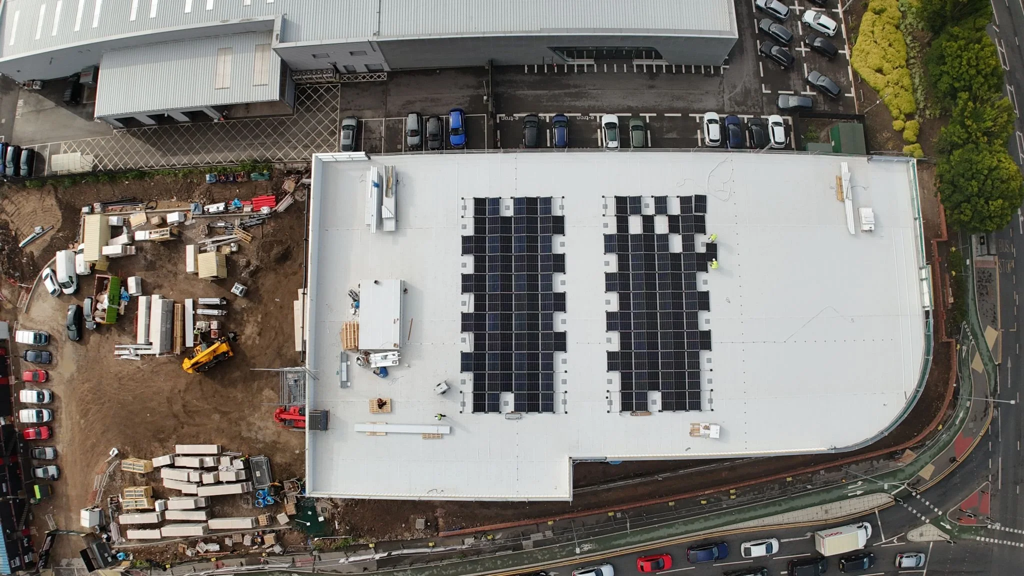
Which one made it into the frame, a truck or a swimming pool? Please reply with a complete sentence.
I can see a truck in this picture.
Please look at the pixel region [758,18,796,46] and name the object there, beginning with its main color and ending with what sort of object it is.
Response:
gray car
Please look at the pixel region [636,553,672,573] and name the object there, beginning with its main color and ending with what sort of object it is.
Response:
red car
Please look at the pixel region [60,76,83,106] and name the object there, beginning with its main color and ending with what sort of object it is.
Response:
black vehicle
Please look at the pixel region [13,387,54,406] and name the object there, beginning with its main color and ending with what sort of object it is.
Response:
white vehicle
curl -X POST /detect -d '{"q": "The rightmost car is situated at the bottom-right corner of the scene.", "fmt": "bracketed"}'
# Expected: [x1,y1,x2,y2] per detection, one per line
[893,551,924,569]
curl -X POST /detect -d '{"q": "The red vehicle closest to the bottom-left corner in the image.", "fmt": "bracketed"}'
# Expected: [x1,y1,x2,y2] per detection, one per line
[23,425,54,441]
